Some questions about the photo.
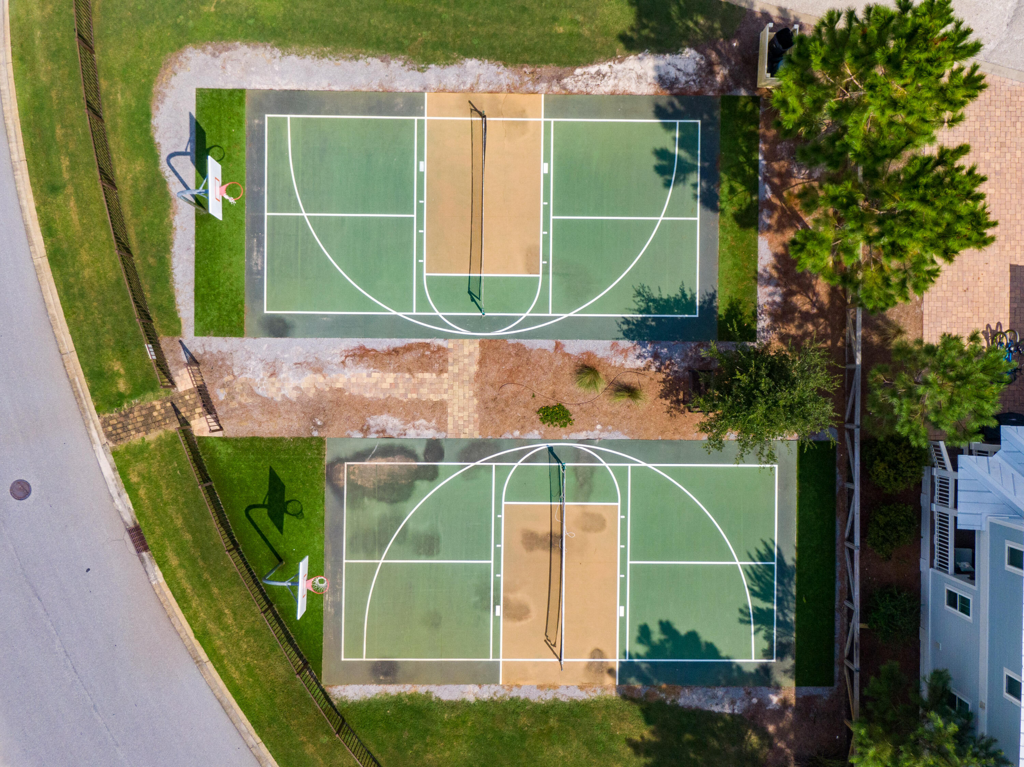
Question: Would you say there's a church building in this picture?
No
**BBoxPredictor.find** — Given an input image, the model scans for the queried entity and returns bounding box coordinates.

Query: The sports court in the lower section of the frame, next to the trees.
[322,438,797,687]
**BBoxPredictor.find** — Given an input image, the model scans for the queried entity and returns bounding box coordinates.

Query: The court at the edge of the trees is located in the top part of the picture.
[244,89,721,341]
